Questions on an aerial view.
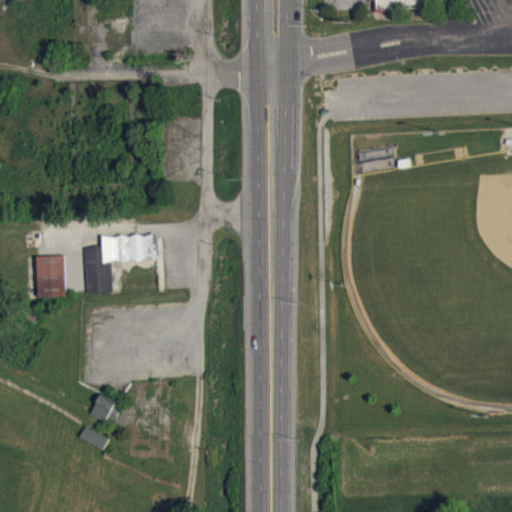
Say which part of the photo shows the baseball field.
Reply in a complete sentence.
The baseball field appears toward the right of the photo.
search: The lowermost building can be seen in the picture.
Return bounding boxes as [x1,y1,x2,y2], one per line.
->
[80,426,112,451]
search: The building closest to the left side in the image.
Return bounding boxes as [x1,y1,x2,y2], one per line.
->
[36,256,67,297]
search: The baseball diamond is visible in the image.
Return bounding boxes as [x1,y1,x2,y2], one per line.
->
[343,153,512,410]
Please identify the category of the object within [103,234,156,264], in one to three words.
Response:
building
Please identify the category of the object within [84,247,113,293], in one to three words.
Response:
building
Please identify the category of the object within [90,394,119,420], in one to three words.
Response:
house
